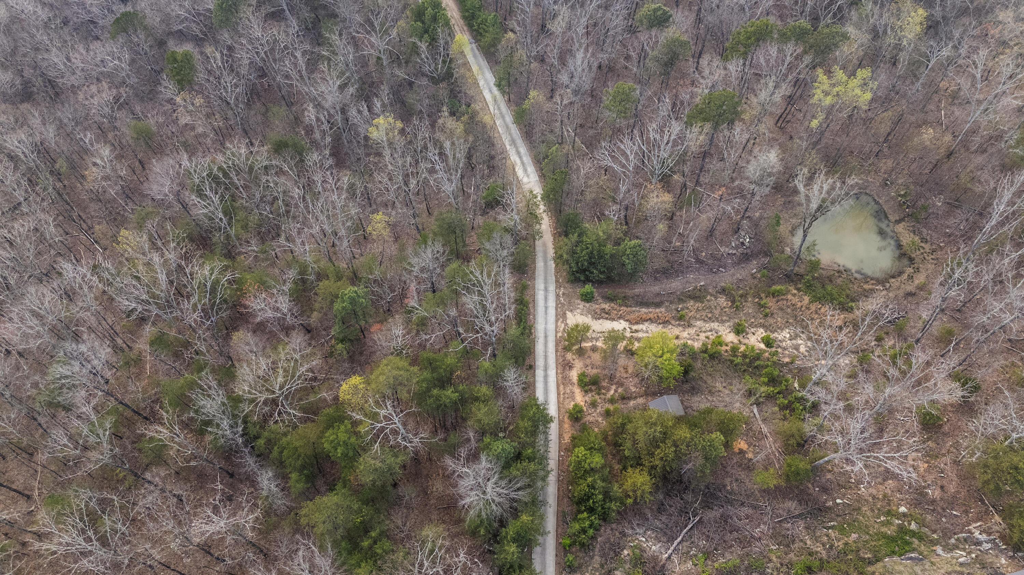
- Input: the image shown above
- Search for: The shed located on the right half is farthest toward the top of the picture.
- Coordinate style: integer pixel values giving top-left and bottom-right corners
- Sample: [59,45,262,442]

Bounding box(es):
[647,394,683,424]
